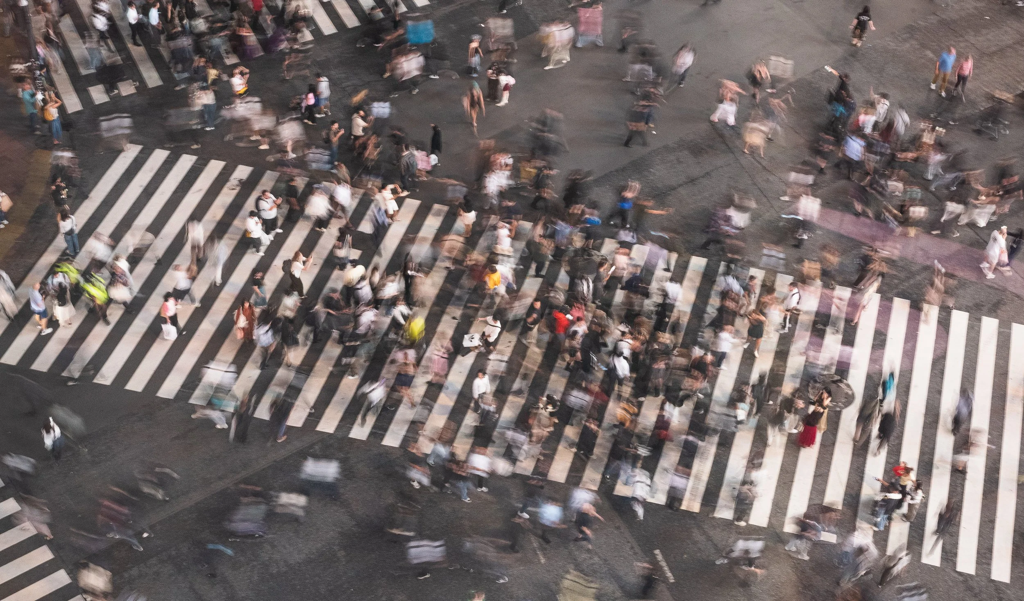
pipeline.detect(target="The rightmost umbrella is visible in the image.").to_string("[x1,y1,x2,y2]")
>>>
[806,381,854,421]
